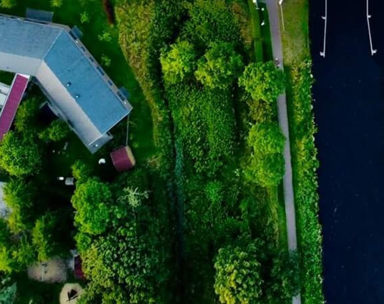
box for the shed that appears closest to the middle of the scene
[110,141,137,174]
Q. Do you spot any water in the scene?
Yes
